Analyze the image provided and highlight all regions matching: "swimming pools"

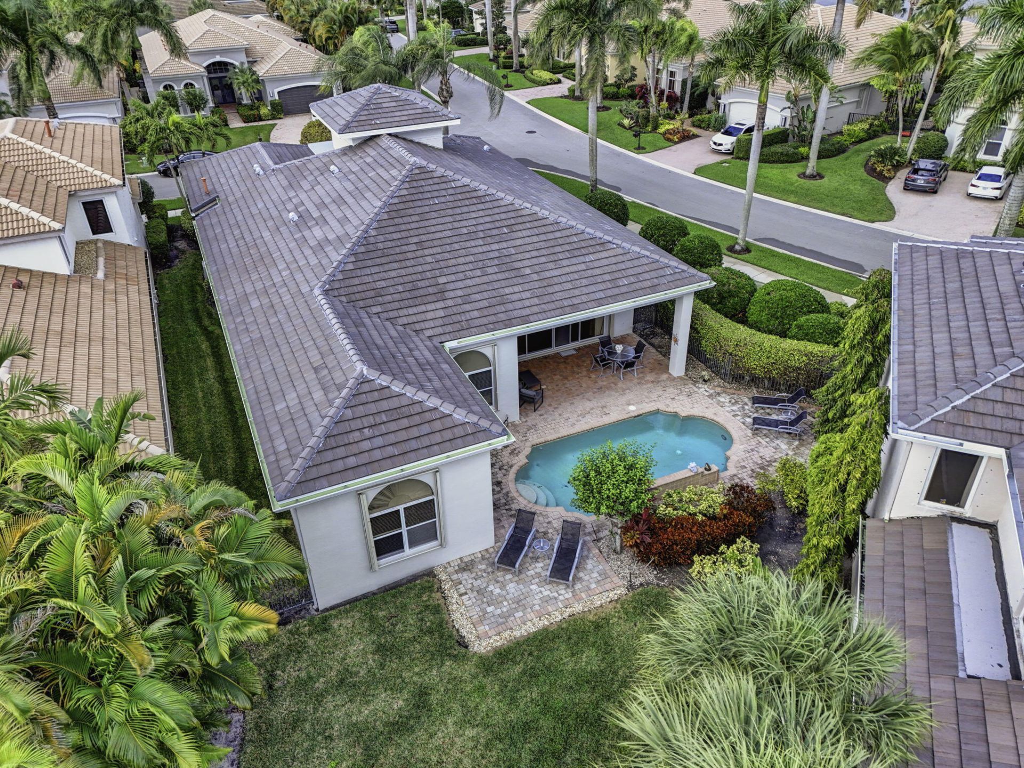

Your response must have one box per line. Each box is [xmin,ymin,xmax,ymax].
[504,403,743,521]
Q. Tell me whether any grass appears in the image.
Yes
